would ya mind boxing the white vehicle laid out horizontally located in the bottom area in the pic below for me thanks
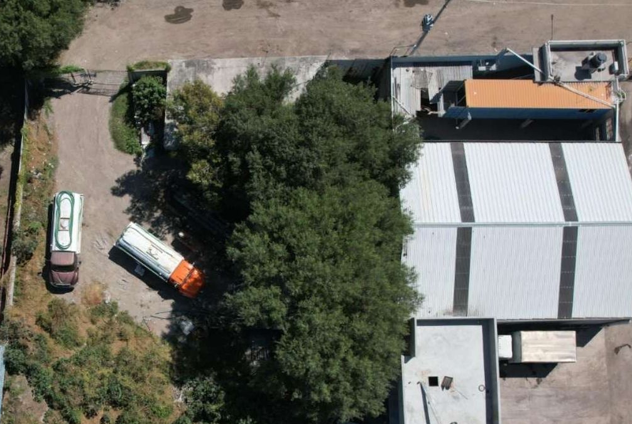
[498,332,577,363]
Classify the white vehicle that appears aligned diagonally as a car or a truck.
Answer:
truck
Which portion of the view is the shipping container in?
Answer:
top right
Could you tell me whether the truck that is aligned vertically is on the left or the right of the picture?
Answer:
left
